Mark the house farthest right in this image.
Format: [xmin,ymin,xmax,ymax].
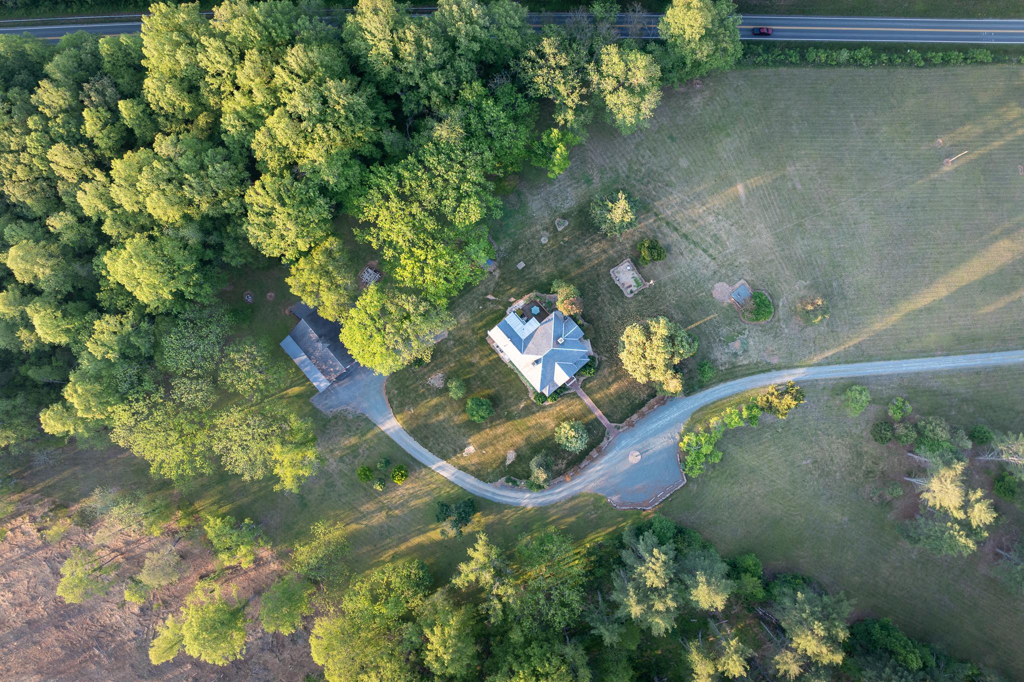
[488,312,590,396]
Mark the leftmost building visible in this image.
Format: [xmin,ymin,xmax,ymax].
[282,300,359,393]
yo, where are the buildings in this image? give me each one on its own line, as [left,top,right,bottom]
[282,300,359,393]
[488,312,590,396]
